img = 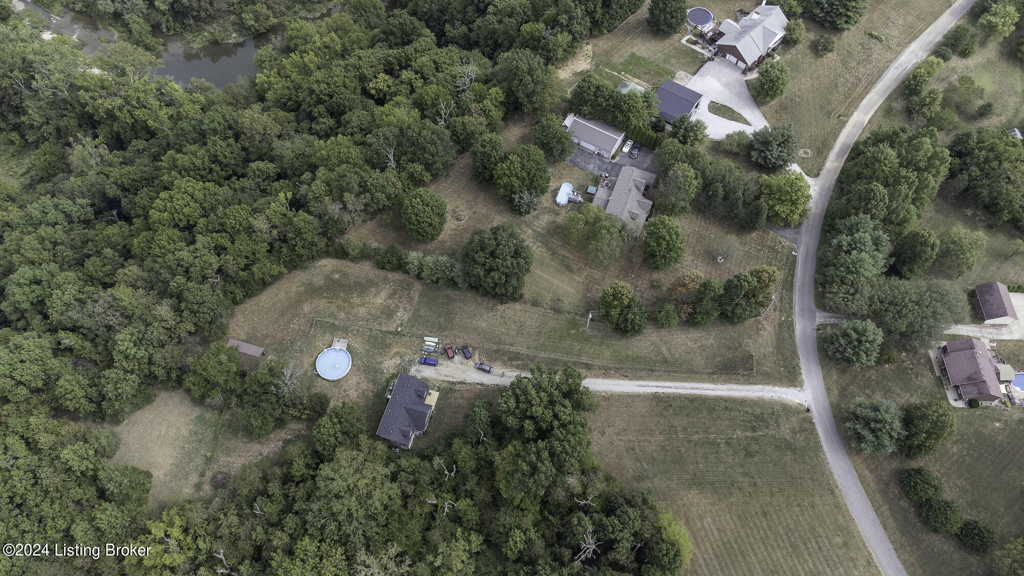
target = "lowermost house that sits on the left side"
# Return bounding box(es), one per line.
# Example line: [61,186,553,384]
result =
[375,373,439,449]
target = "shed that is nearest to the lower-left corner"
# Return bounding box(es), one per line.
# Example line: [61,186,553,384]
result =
[225,336,268,374]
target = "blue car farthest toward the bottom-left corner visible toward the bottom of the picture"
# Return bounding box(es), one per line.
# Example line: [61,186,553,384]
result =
[419,356,439,368]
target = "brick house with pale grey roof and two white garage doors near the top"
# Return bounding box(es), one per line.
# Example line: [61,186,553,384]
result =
[707,0,790,69]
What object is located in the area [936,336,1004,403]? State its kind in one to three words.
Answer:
house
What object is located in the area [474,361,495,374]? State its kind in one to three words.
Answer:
vehicle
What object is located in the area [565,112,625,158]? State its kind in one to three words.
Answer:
building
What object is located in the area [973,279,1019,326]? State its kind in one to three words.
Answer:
building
